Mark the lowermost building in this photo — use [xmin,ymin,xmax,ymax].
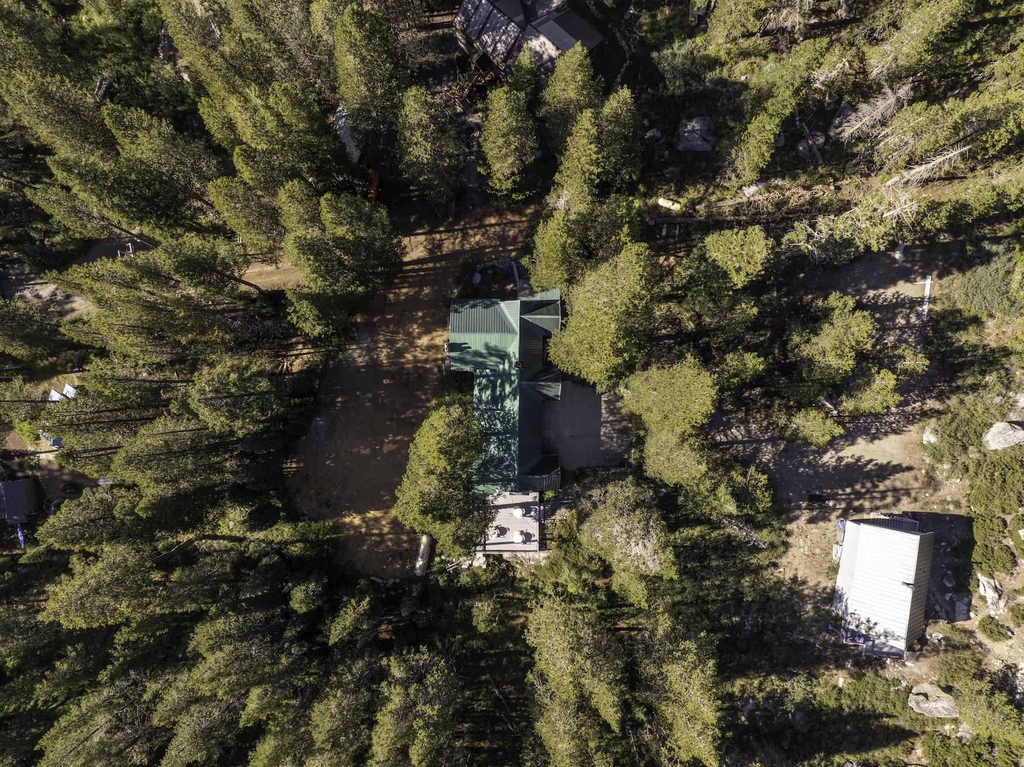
[827,506,935,650]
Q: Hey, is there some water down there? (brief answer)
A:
No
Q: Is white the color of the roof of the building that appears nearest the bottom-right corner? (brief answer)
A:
Yes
